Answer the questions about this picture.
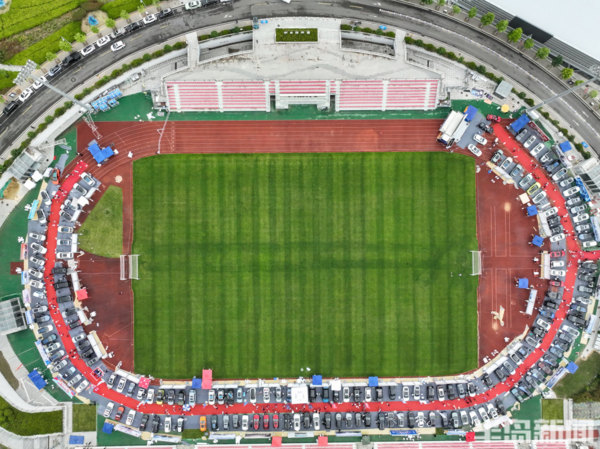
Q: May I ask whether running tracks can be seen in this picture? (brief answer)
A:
Yes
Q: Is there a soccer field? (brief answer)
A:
Yes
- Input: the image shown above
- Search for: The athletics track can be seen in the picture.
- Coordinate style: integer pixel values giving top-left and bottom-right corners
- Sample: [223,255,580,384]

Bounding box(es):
[23,120,551,387]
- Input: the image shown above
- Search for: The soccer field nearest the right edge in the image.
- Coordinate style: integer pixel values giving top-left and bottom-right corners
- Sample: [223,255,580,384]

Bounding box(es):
[134,152,478,380]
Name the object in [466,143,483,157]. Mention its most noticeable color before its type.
white car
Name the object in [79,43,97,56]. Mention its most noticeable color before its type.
white vehicle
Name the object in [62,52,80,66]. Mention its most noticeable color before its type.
black car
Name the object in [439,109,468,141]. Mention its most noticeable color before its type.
white truck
